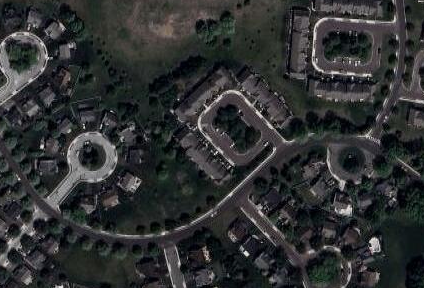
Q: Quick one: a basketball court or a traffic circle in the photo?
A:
traffic circle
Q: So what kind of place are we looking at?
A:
residential area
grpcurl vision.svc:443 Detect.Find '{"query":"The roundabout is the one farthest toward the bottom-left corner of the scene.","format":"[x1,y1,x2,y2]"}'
[68,134,116,182]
